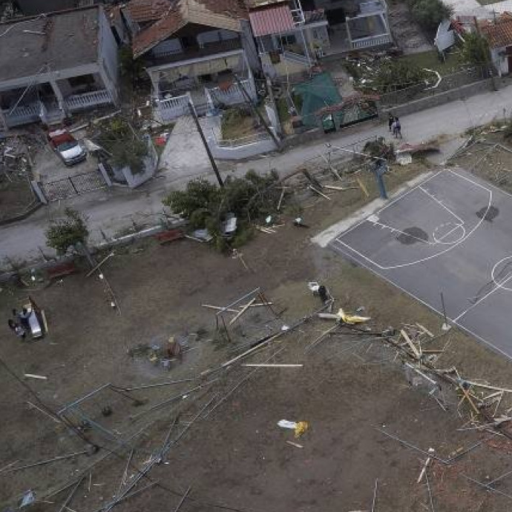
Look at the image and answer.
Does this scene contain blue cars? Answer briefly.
No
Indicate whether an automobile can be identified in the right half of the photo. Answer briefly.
No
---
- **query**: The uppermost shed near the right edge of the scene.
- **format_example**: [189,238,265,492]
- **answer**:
[450,0,495,39]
